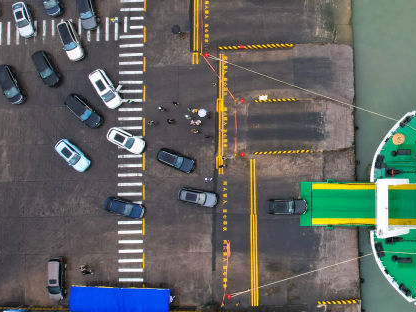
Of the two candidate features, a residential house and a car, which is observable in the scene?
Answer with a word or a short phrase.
car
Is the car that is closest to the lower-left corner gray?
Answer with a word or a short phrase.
Yes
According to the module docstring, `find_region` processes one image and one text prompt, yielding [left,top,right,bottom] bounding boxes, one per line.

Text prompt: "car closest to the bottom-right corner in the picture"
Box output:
[267,198,307,216]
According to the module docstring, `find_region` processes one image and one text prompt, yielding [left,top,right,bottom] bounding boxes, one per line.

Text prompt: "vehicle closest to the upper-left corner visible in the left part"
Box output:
[11,0,37,38]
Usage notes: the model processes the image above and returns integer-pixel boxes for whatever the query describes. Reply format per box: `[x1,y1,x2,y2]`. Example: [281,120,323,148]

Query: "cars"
[89,68,121,109]
[45,259,66,299]
[11,0,37,38]
[155,148,195,173]
[53,138,91,172]
[104,126,146,155]
[0,65,24,105]
[267,198,307,216]
[63,93,103,128]
[57,20,85,61]
[29,48,61,87]
[41,0,63,16]
[104,197,145,219]
[178,187,218,207]
[74,0,99,29]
